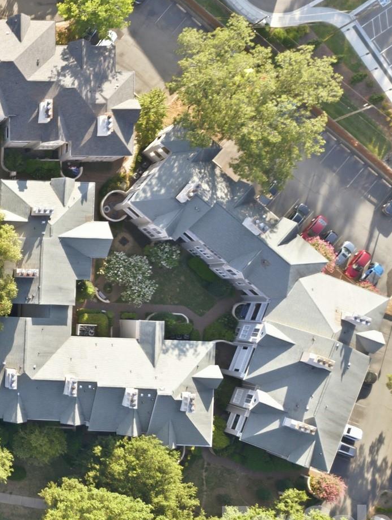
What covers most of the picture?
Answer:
buildings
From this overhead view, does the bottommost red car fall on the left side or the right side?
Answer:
right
